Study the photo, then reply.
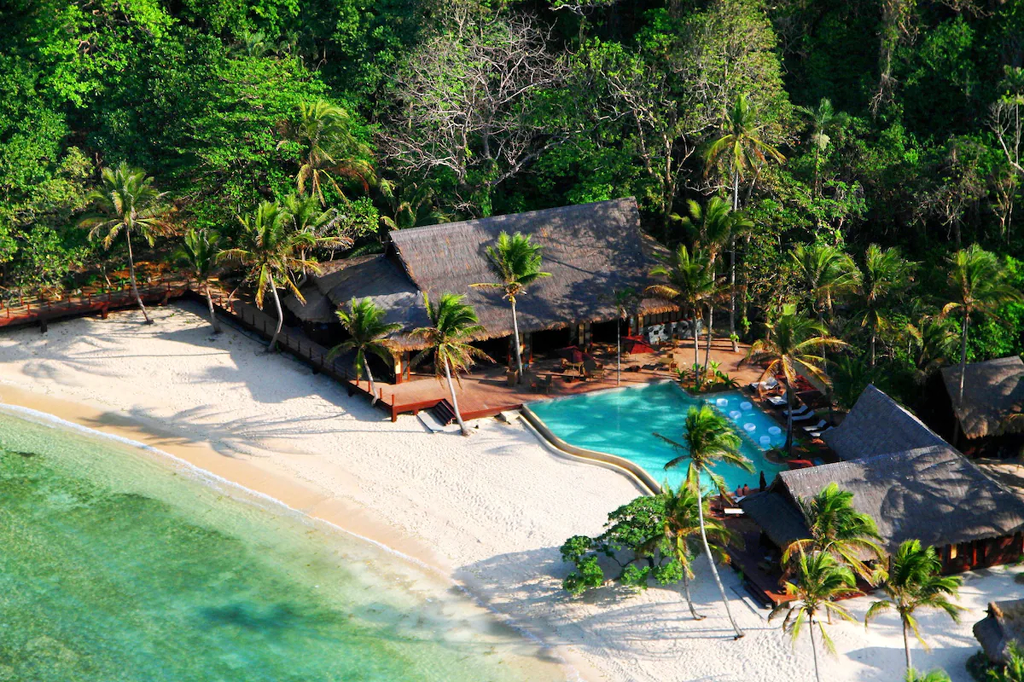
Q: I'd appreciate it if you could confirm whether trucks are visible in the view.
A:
No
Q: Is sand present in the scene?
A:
Yes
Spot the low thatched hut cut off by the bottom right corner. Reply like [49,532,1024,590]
[967,593,1024,664]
